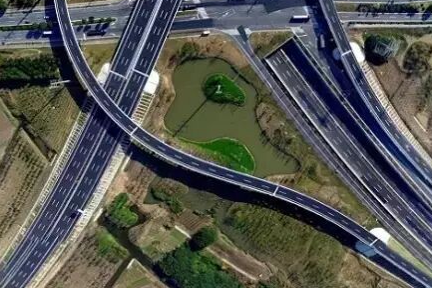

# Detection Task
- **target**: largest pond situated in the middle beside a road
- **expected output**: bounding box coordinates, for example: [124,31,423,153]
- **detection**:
[166,58,299,176]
